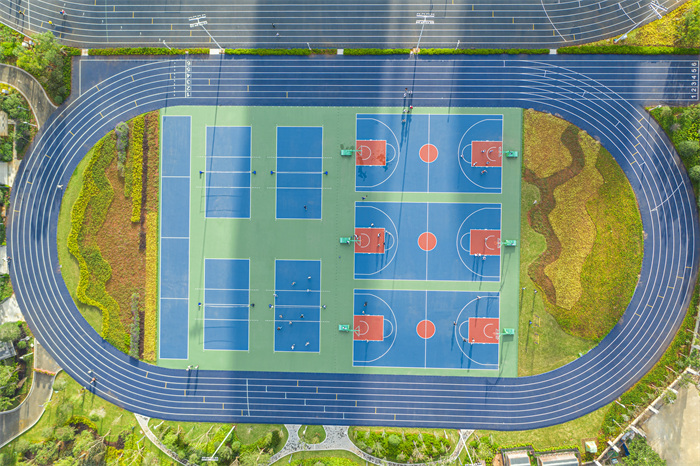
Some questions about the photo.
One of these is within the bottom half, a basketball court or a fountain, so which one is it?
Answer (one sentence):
The feature located within the bottom half is a basketball court.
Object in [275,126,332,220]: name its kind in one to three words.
sports court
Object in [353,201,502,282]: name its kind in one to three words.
basketball court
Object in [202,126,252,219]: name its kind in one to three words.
sports court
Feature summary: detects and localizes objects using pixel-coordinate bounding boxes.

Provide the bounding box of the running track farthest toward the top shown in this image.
[0,0,679,49]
